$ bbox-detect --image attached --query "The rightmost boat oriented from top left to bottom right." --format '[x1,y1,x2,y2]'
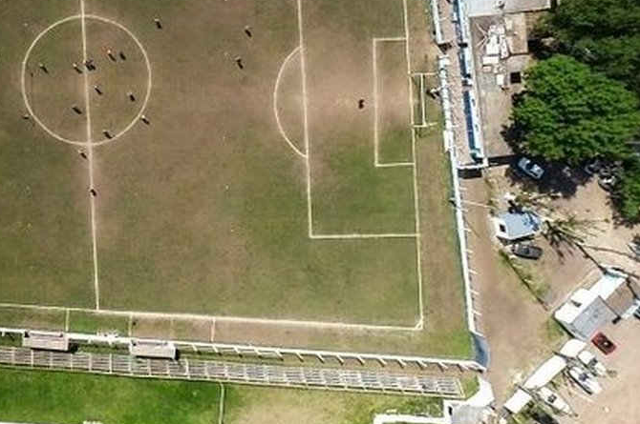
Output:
[565,367,604,395]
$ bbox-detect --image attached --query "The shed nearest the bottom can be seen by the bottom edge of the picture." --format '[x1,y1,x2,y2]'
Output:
[441,397,492,424]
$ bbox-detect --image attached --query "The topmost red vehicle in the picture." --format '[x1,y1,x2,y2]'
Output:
[590,333,614,355]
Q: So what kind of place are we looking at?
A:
sports ground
